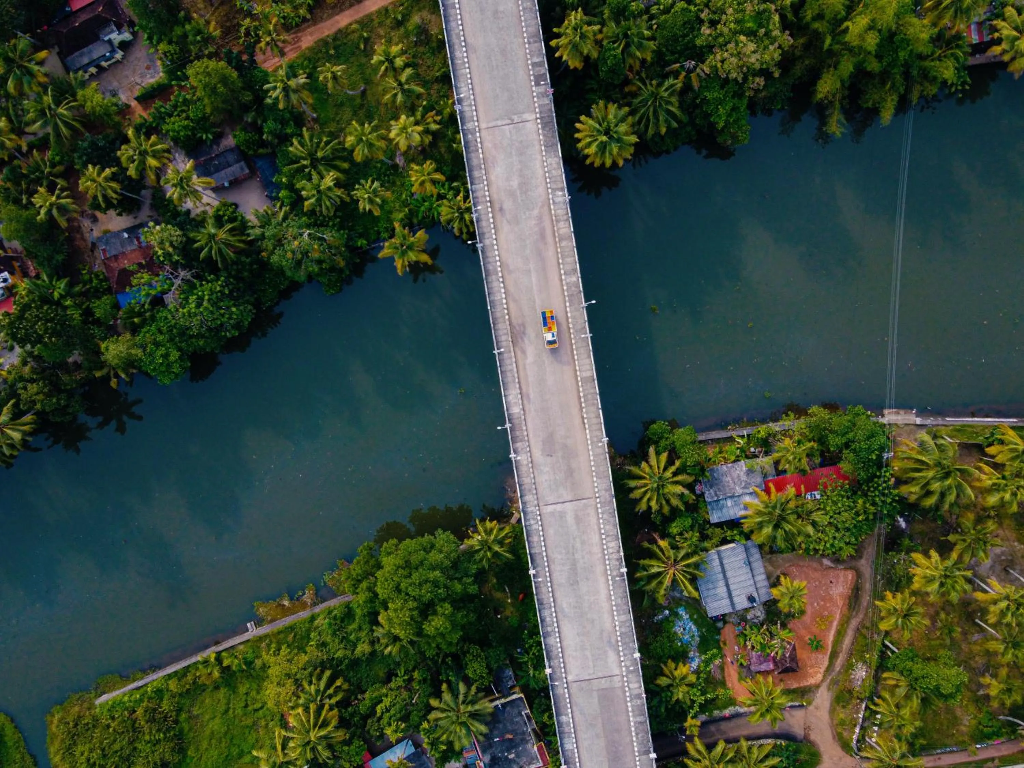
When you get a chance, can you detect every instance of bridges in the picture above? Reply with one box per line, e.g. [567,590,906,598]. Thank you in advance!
[438,0,656,768]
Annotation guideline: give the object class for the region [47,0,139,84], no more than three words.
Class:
house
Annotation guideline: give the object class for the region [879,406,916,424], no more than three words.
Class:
pier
